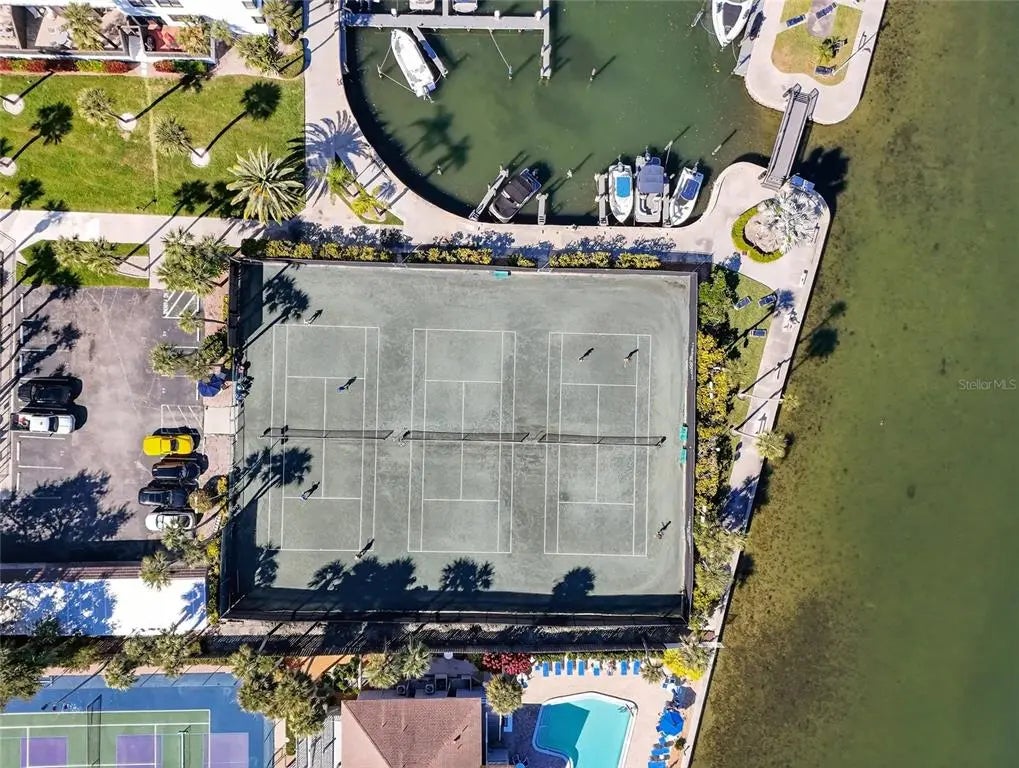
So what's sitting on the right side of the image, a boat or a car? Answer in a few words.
boat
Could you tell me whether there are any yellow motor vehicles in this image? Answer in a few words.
Yes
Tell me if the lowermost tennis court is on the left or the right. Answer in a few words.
left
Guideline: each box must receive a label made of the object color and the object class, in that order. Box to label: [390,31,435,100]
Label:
white boat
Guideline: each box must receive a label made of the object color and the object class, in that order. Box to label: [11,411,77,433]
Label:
white truck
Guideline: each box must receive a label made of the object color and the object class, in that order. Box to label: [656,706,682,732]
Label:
blue umbrella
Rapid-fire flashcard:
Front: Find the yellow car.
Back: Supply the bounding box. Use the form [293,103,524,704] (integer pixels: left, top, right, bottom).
[143,433,194,457]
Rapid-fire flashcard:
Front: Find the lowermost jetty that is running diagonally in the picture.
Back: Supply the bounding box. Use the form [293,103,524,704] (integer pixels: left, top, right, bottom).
[470,164,510,221]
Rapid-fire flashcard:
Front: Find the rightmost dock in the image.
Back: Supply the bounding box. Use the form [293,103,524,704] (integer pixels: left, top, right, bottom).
[731,0,759,76]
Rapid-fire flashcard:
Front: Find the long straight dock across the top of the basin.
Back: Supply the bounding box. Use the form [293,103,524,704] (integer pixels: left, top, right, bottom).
[349,5,541,38]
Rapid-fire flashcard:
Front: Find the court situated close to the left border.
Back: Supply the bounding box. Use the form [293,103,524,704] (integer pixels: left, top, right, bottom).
[0,672,274,768]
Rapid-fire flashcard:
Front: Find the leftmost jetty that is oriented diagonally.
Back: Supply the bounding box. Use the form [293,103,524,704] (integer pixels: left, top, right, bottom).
[411,28,449,78]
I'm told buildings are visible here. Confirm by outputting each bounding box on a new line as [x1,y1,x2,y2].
[0,0,278,42]
[0,562,219,637]
[340,689,483,768]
